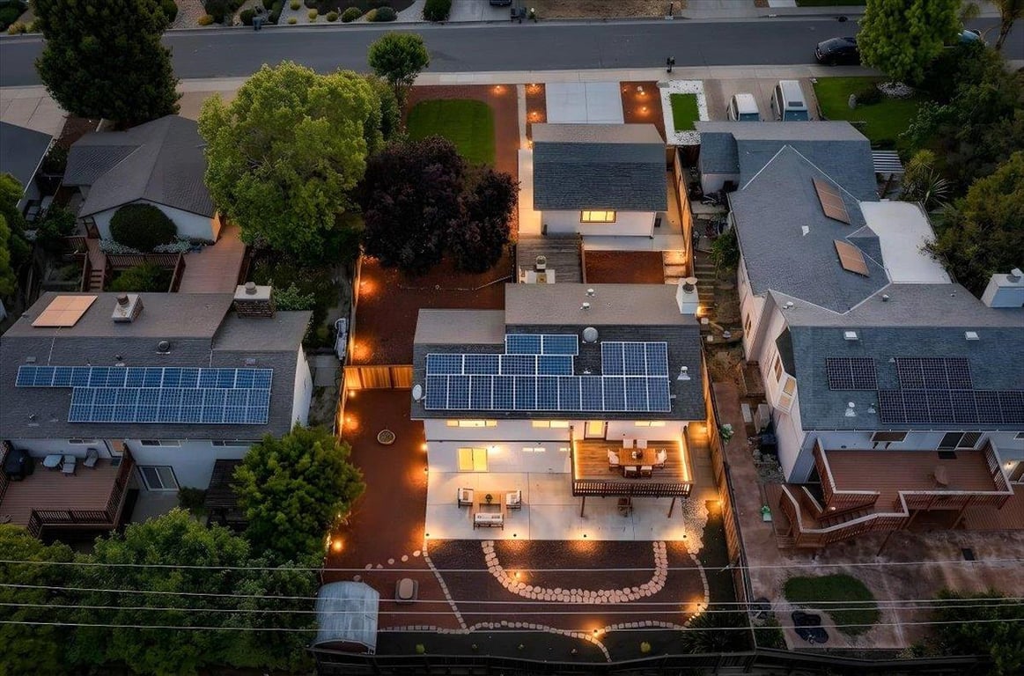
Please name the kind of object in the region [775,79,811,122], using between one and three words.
van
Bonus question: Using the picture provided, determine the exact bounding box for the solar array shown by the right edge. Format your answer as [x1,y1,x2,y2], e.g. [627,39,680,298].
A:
[827,357,1024,423]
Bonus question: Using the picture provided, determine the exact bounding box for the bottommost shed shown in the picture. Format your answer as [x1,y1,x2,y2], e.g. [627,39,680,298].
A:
[316,581,381,649]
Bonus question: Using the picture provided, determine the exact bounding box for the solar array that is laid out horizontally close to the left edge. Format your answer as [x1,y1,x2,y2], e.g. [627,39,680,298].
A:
[15,365,272,423]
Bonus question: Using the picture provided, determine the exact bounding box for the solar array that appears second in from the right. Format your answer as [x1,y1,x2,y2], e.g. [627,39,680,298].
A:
[424,334,672,411]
